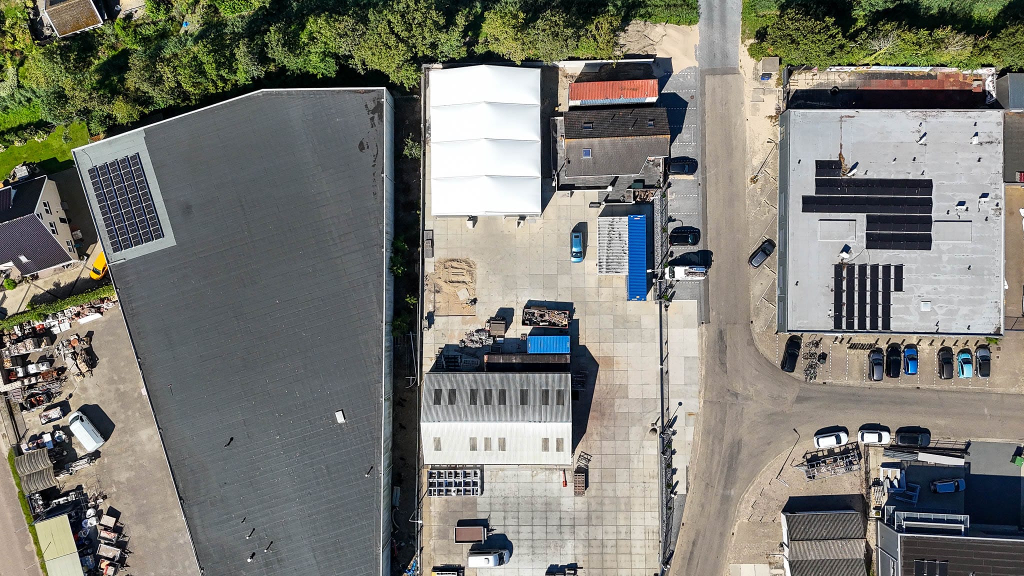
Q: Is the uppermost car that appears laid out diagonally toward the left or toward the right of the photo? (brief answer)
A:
right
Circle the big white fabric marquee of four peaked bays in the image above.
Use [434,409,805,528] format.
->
[430,64,541,220]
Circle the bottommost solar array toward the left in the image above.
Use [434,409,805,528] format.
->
[89,153,161,253]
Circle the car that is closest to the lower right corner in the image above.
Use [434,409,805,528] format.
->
[929,477,963,494]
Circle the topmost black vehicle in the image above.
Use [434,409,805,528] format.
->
[667,159,697,175]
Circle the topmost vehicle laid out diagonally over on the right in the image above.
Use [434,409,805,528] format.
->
[746,238,776,269]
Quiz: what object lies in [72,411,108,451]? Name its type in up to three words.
van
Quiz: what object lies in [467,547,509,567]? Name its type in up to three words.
vehicle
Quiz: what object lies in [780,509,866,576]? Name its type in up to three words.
building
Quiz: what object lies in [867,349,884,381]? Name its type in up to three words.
car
